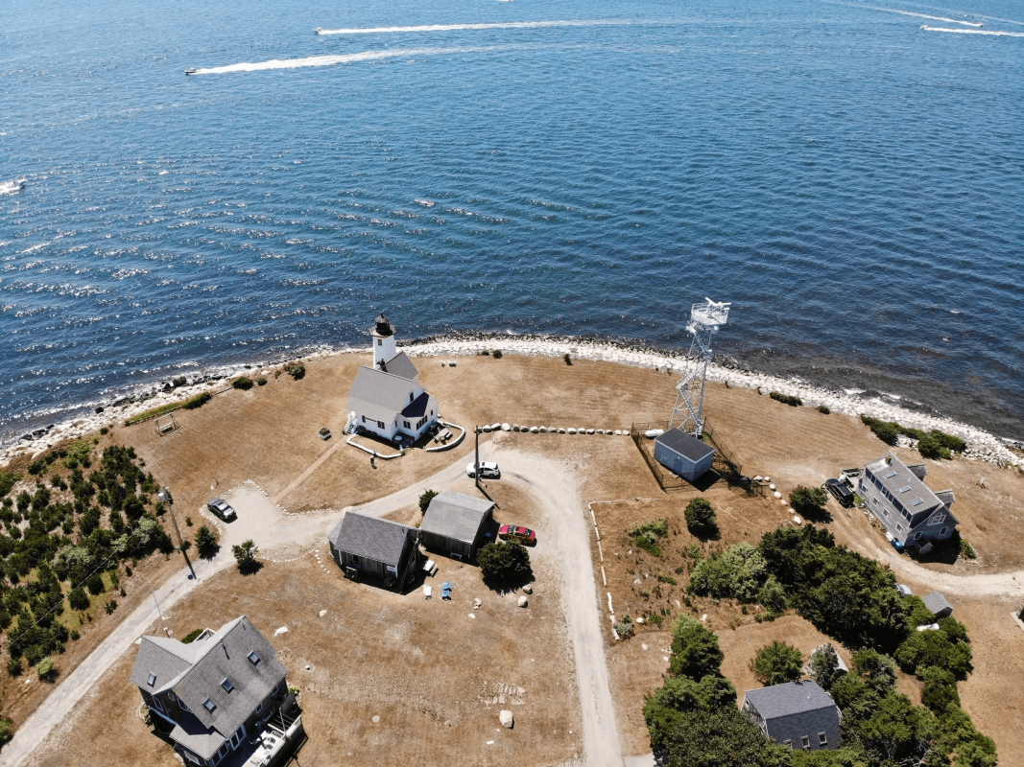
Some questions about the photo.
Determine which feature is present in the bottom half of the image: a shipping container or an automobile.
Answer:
automobile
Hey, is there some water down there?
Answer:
Yes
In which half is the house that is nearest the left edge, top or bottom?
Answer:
bottom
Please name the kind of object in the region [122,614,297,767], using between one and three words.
house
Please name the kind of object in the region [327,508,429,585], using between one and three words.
shed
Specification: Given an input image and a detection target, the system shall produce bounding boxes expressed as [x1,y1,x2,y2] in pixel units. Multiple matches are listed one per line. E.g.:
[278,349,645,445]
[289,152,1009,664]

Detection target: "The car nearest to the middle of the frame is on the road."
[466,457,500,473]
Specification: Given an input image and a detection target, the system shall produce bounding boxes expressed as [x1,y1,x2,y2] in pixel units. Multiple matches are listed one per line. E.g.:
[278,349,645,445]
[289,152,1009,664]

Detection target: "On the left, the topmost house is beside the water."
[338,352,441,439]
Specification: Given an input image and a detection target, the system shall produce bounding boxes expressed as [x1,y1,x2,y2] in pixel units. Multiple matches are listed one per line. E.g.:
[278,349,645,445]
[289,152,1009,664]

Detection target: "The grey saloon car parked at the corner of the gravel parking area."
[203,493,237,516]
